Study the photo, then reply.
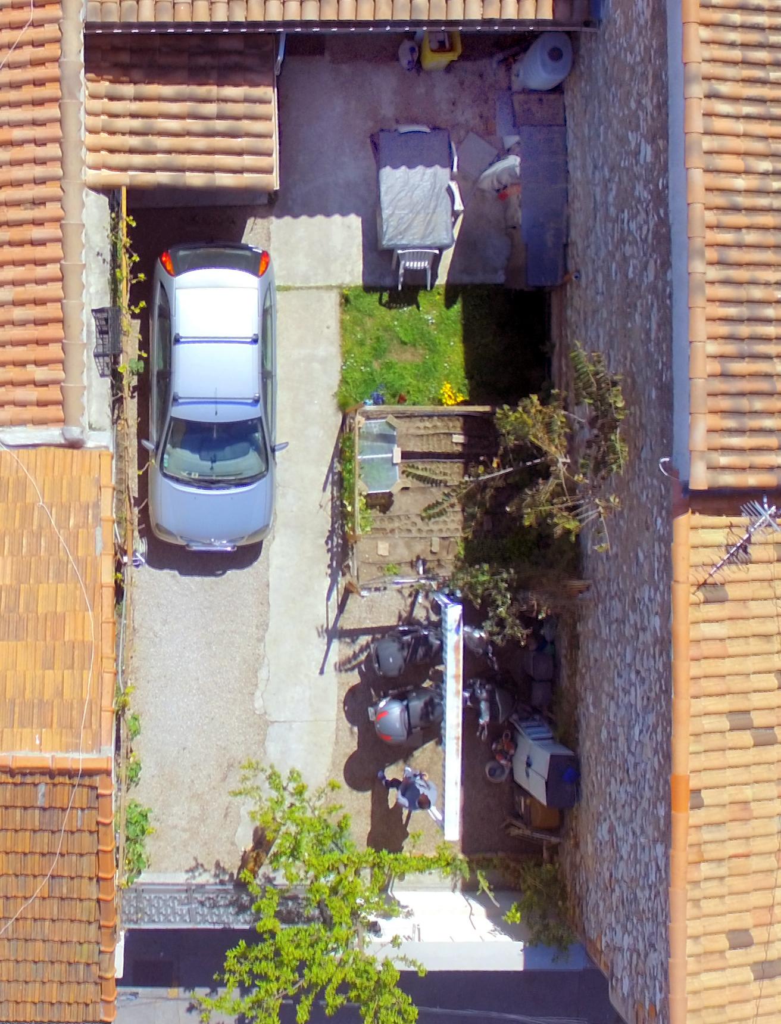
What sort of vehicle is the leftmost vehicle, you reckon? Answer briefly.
car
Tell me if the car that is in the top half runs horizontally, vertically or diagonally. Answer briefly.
vertically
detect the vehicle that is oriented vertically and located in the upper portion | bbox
[139,244,286,553]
